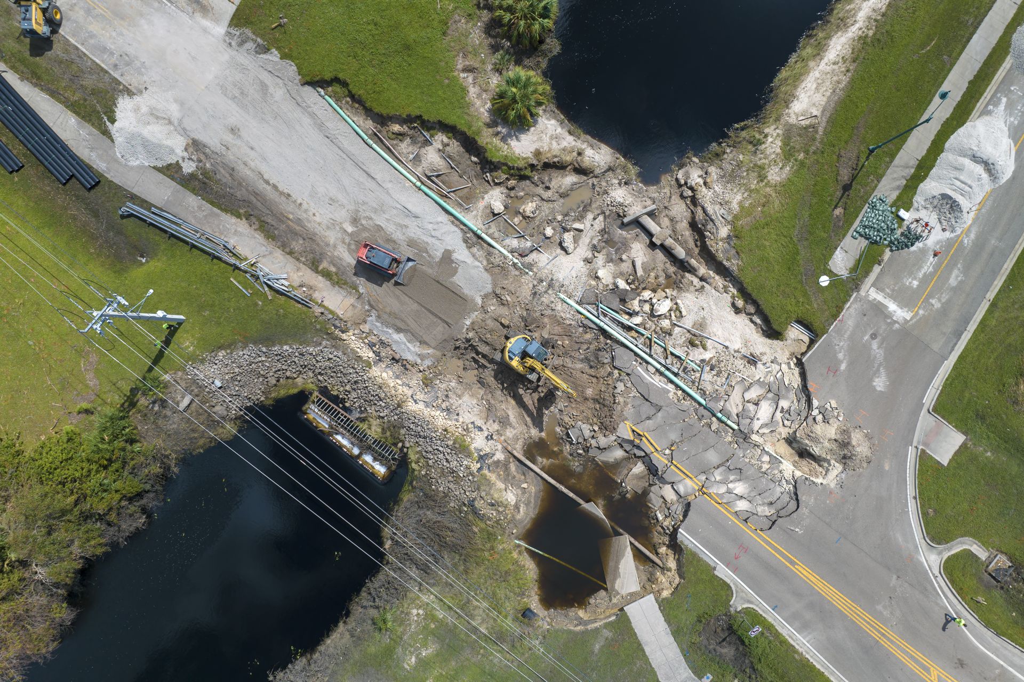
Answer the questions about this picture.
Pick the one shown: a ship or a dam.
dam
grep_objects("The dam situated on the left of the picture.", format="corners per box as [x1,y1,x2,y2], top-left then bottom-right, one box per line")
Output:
[302,393,399,482]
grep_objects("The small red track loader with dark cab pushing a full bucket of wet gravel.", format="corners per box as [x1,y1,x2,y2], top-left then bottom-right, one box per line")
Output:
[351,239,411,286]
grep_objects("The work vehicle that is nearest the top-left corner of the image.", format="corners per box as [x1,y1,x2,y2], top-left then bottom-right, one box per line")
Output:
[19,0,67,45]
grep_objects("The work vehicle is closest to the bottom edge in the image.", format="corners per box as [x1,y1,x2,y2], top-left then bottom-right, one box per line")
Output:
[495,328,580,396]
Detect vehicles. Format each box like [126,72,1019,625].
[19,0,67,45]
[351,239,411,286]
[495,328,580,396]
